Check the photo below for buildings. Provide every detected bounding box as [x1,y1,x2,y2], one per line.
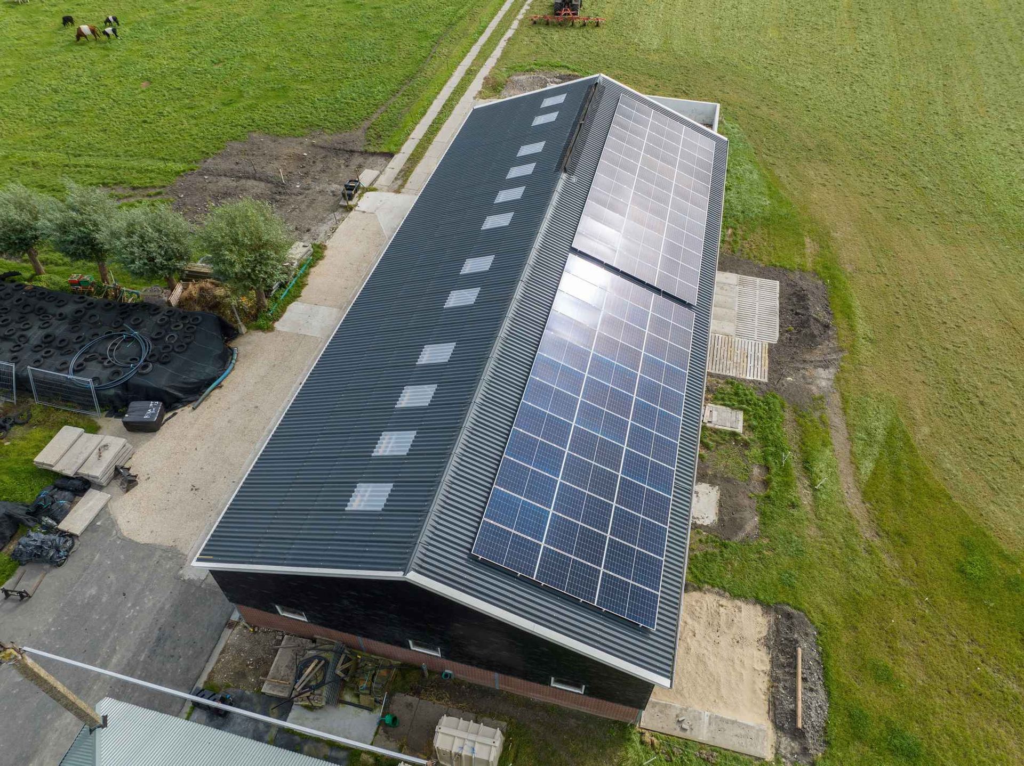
[58,696,338,766]
[186,72,731,725]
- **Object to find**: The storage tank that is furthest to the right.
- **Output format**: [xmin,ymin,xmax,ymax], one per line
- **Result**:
[432,718,498,766]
